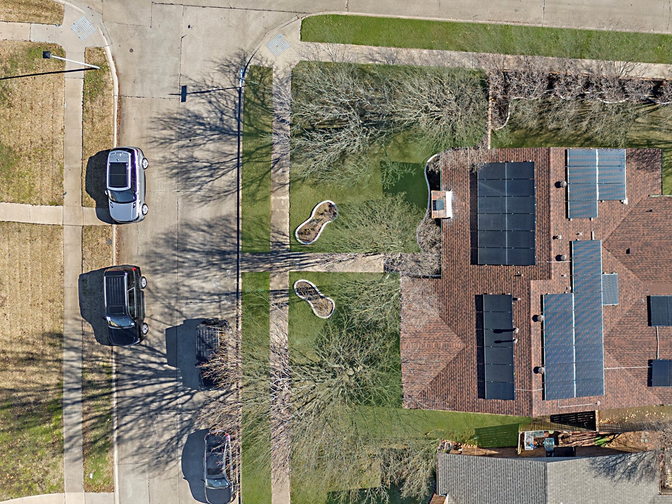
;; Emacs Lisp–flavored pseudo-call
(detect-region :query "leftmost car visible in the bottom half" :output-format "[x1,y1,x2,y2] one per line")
[101,267,148,348]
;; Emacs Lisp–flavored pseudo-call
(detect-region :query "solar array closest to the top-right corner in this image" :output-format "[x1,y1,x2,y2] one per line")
[568,148,627,218]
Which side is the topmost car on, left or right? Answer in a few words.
left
